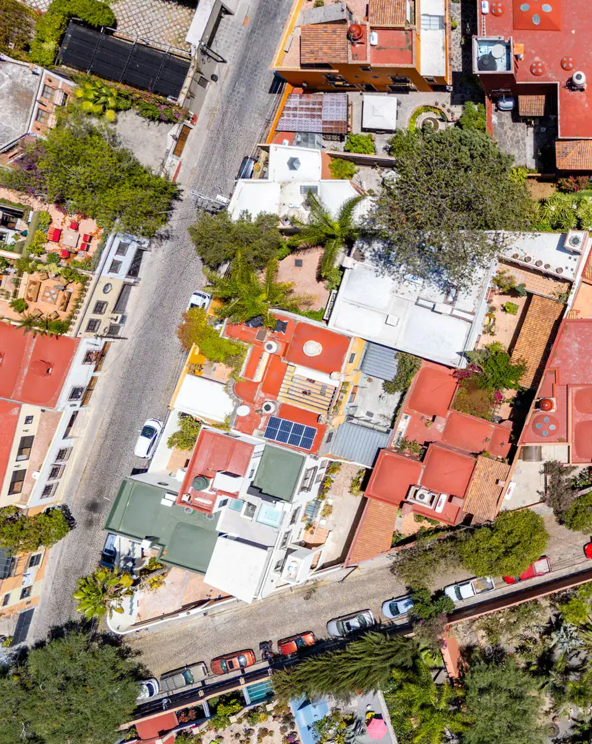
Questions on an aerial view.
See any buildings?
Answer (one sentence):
Yes, there's a building down there.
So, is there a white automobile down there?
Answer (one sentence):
Yes, there is a white automobile in the image.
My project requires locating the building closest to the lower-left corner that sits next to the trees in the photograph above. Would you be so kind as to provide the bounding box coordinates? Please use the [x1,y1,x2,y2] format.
[0,626,47,668]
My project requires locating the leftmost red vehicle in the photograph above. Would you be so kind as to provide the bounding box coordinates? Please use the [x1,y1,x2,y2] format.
[210,647,258,676]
